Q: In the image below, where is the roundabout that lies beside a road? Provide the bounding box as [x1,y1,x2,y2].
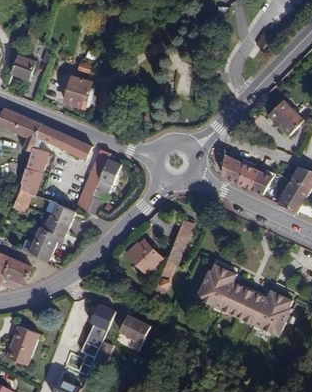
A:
[111,120,232,212]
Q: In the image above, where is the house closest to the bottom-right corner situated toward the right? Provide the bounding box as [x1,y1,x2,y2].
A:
[200,266,294,338]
